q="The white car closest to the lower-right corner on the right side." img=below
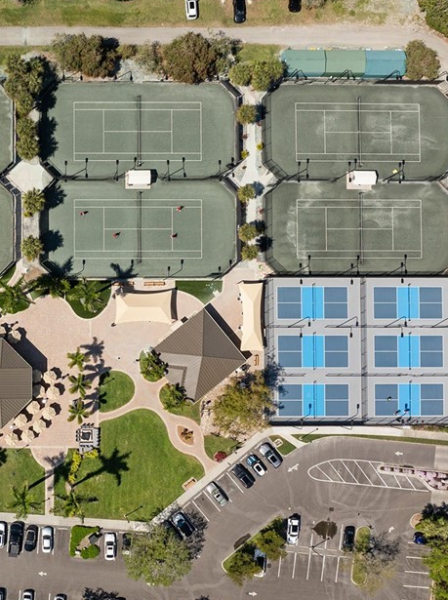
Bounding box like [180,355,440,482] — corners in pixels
[287,516,301,543]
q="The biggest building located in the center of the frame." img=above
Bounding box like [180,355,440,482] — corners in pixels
[153,308,246,404]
